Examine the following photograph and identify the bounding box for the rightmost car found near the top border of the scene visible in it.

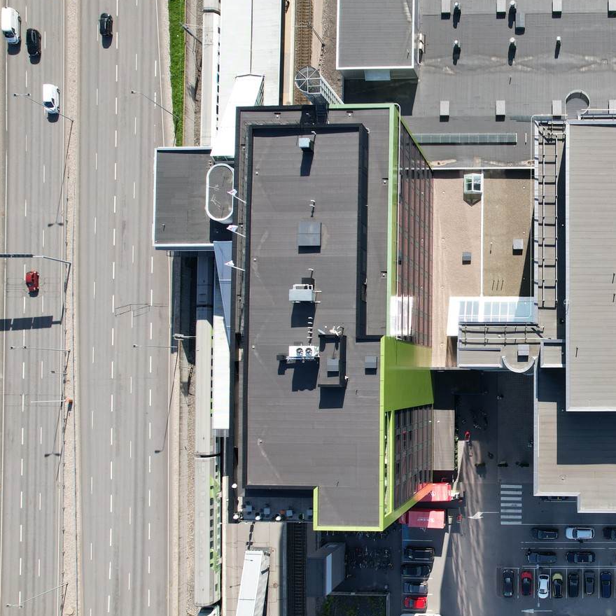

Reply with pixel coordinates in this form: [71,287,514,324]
[99,12,114,39]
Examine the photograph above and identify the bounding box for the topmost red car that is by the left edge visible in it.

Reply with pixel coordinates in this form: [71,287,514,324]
[25,270,41,294]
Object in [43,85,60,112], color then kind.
white car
